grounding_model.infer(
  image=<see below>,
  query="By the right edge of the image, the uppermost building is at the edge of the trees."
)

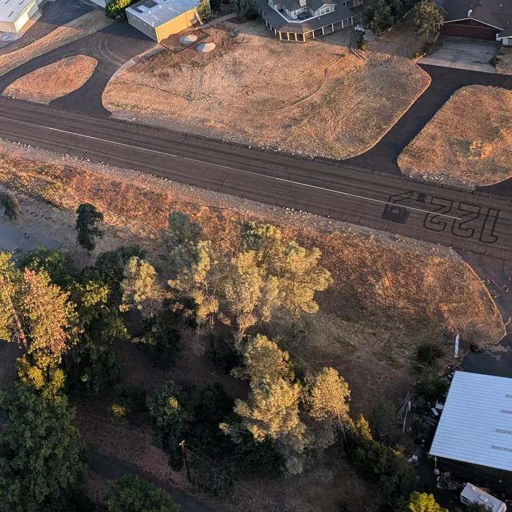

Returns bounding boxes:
[438,0,512,64]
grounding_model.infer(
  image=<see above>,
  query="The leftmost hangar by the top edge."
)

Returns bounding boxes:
[0,0,36,36]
